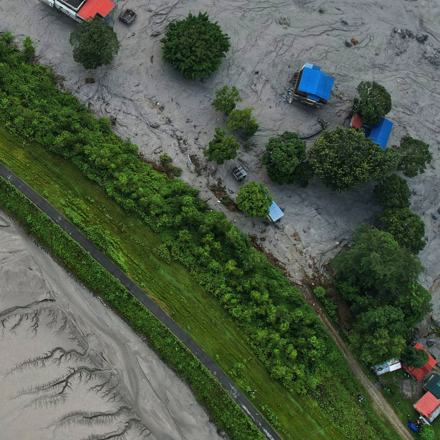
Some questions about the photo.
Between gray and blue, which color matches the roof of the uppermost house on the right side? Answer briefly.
blue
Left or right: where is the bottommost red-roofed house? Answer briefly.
right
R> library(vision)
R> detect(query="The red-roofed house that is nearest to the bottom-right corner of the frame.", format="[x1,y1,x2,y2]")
[410,392,440,423]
